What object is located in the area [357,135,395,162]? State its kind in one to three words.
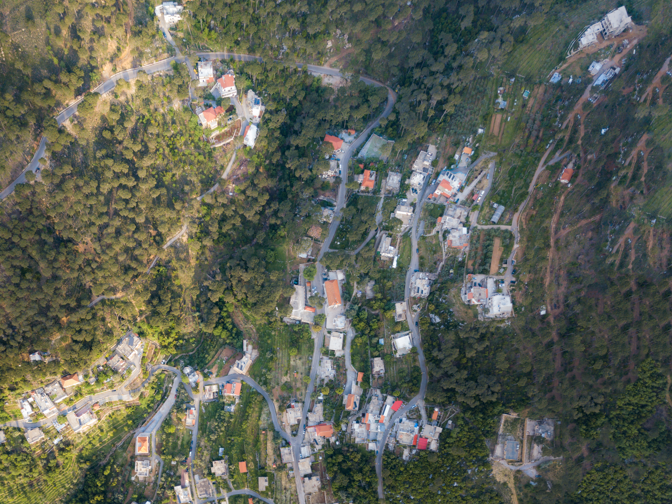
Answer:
sports court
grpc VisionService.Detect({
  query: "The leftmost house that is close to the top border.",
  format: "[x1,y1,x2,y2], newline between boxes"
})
[155,2,185,26]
